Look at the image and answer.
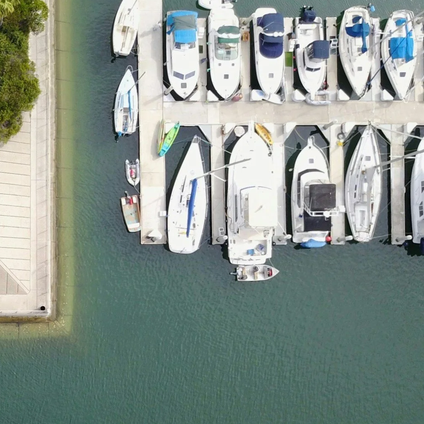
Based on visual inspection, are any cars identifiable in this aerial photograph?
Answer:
No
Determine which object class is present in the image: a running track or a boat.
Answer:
boat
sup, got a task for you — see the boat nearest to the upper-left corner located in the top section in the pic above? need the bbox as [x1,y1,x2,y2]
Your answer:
[111,0,145,57]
